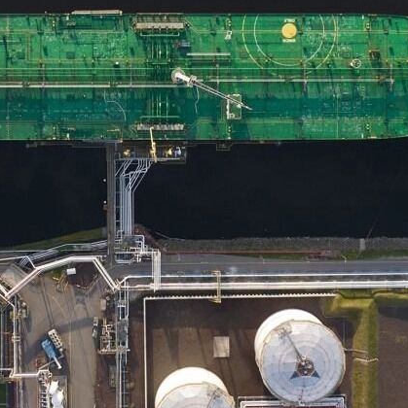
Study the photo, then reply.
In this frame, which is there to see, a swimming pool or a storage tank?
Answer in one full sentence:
Looking from above, you can make out a storage tank.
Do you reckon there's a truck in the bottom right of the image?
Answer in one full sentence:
No, no truck is visible in the bottom right of the image.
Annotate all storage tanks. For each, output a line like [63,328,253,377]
[155,367,232,408]
[254,309,345,408]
